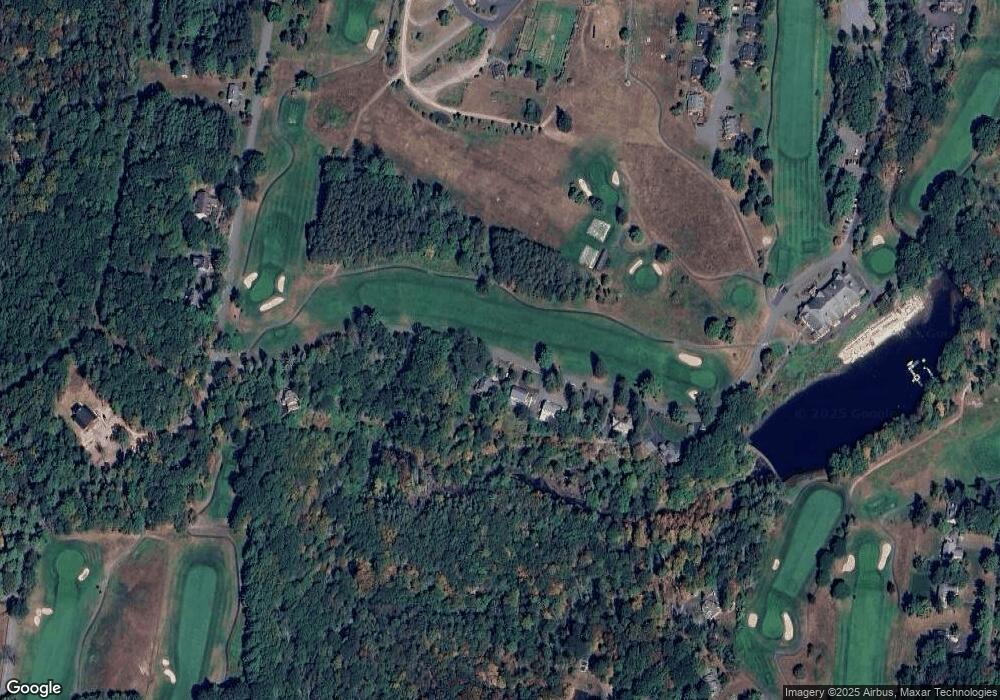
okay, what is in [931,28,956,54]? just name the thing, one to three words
house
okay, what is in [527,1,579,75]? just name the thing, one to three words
sports court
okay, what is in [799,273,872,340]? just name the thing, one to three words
building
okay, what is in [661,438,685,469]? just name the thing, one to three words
house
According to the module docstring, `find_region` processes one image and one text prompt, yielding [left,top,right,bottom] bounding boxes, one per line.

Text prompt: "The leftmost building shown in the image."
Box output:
[64,400,100,427]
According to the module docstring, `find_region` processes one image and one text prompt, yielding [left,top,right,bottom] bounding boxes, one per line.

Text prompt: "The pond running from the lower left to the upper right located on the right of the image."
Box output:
[752,270,968,481]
